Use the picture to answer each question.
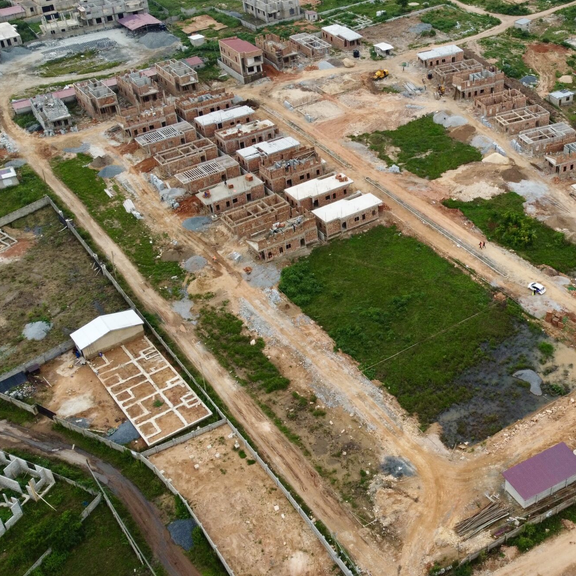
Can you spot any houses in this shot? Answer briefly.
Yes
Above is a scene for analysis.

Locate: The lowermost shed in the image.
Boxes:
[502,442,576,511]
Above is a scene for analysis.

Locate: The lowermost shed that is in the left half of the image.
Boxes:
[70,310,145,363]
